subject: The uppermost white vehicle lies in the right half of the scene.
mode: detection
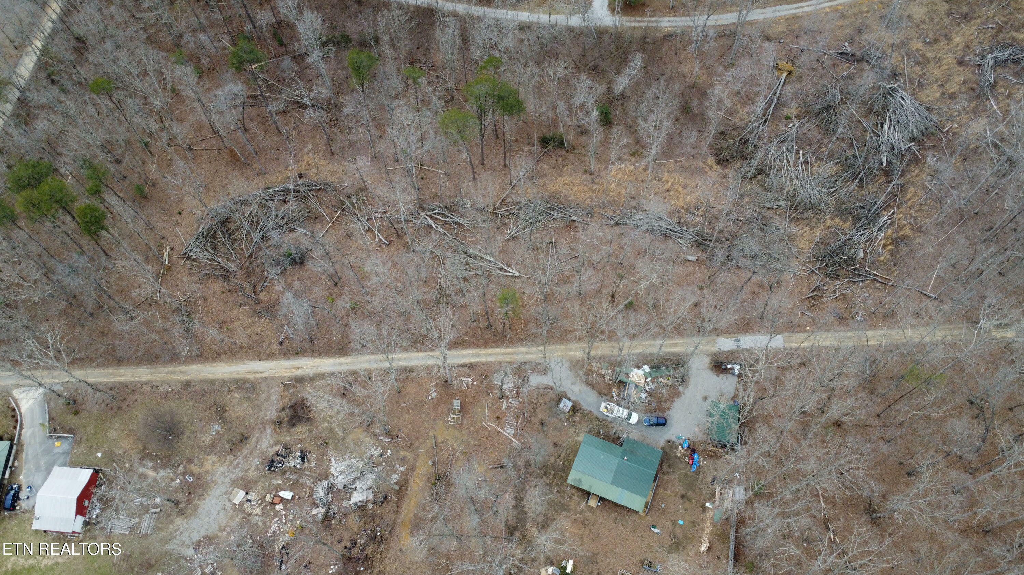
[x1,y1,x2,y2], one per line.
[598,401,639,424]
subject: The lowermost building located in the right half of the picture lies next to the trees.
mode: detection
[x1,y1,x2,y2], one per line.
[567,434,662,517]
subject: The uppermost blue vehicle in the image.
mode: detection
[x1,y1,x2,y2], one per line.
[643,414,667,428]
